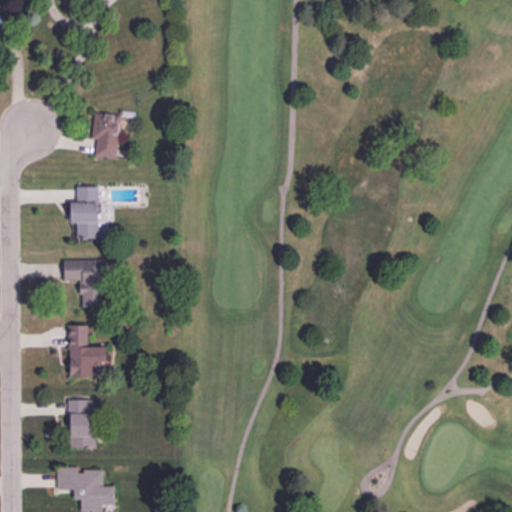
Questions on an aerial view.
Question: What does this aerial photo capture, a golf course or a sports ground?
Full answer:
What you see here is a golf course.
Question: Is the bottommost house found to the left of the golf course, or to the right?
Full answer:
From the viewer's perspective, the bottommost house falls to the left of the golf course.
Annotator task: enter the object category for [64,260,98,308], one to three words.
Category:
house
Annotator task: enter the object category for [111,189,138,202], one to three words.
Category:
swimming pool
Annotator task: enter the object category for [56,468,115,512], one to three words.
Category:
house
